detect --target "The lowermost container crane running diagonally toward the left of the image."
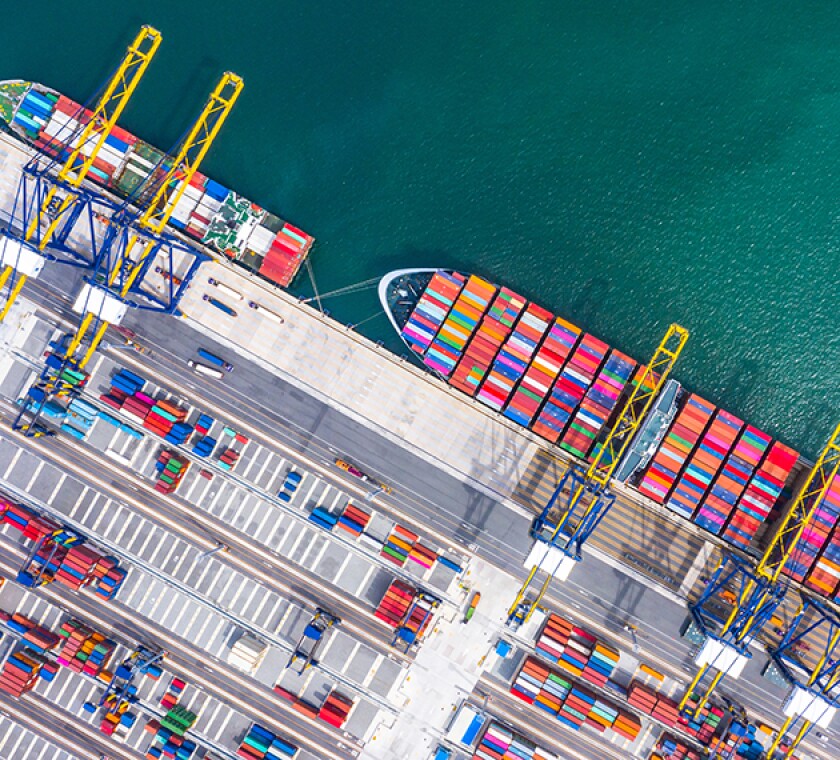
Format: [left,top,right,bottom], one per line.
[94,645,161,715]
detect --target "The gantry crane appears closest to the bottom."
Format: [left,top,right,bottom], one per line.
[701,701,754,760]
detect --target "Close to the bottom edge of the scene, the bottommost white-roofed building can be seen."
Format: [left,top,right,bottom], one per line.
[447,702,486,749]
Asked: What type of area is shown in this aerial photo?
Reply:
port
